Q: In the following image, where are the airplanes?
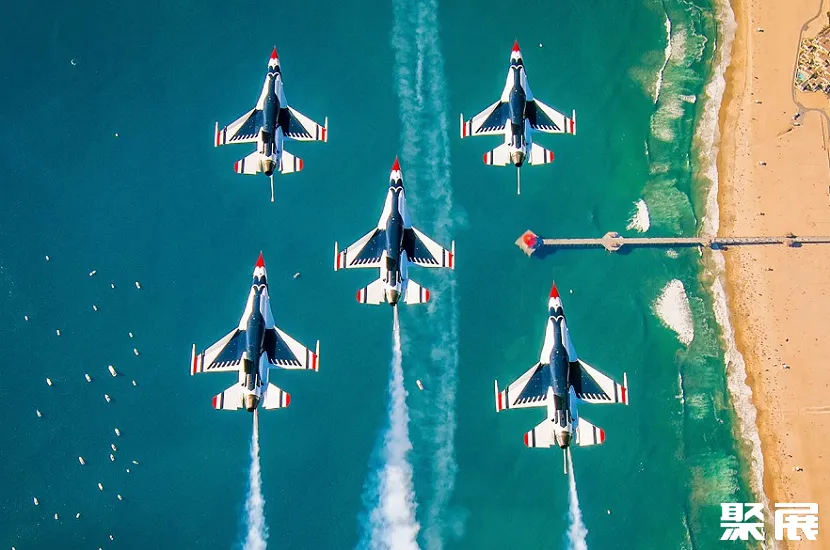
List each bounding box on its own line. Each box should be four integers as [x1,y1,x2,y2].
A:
[335,159,453,328]
[461,45,575,194]
[214,48,327,200]
[191,252,318,435]
[496,282,627,473]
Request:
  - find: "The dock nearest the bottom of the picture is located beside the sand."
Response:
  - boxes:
[516,229,830,256]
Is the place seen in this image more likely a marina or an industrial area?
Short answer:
marina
